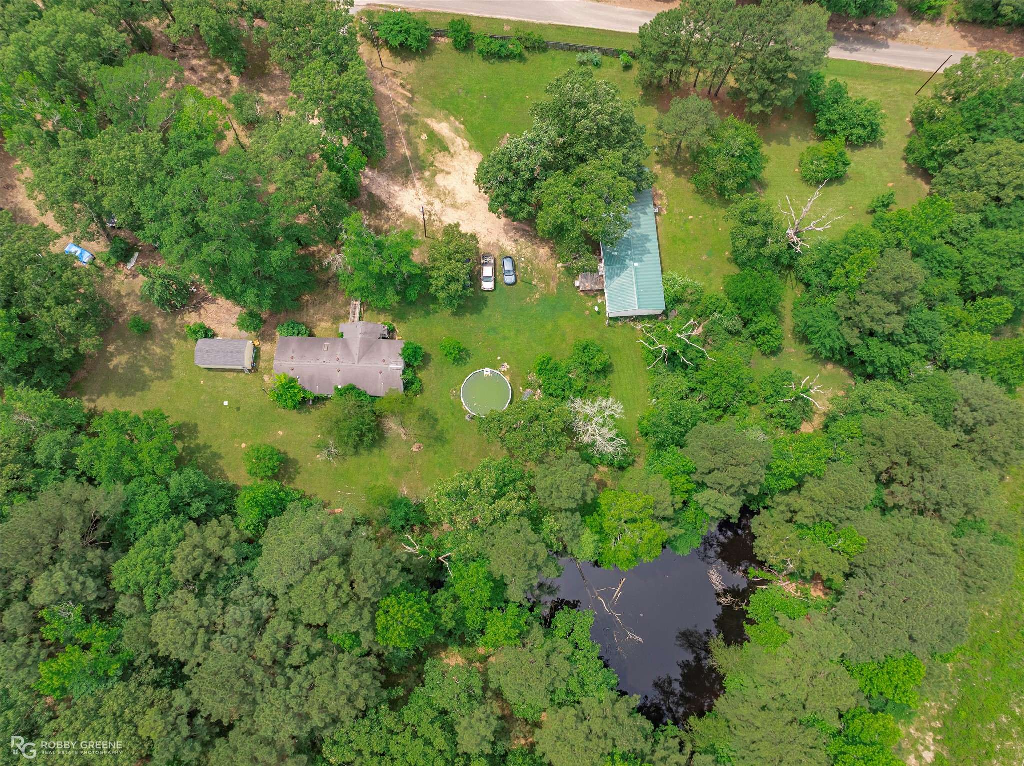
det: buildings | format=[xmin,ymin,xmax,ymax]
[193,340,254,369]
[273,320,405,397]
[600,173,666,320]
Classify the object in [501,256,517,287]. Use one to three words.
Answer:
car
